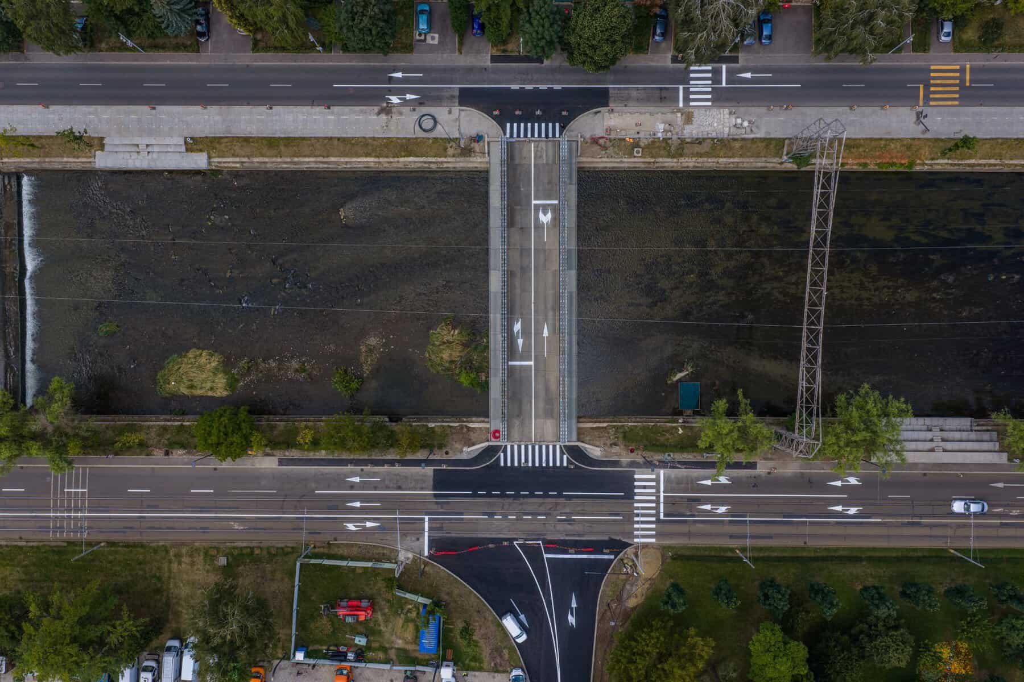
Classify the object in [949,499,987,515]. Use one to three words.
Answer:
car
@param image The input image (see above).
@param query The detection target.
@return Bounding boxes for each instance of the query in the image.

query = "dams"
[3,172,25,412]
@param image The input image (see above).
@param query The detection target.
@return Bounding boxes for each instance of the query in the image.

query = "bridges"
[487,134,578,446]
